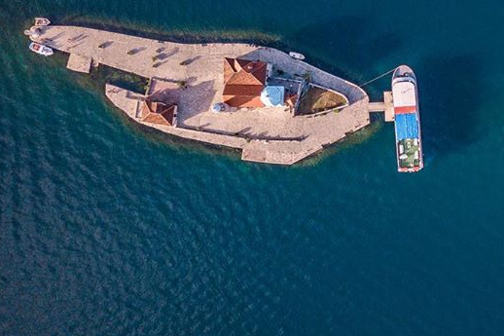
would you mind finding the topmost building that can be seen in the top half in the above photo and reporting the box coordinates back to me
[224,59,270,85]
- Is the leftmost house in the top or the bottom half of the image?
top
